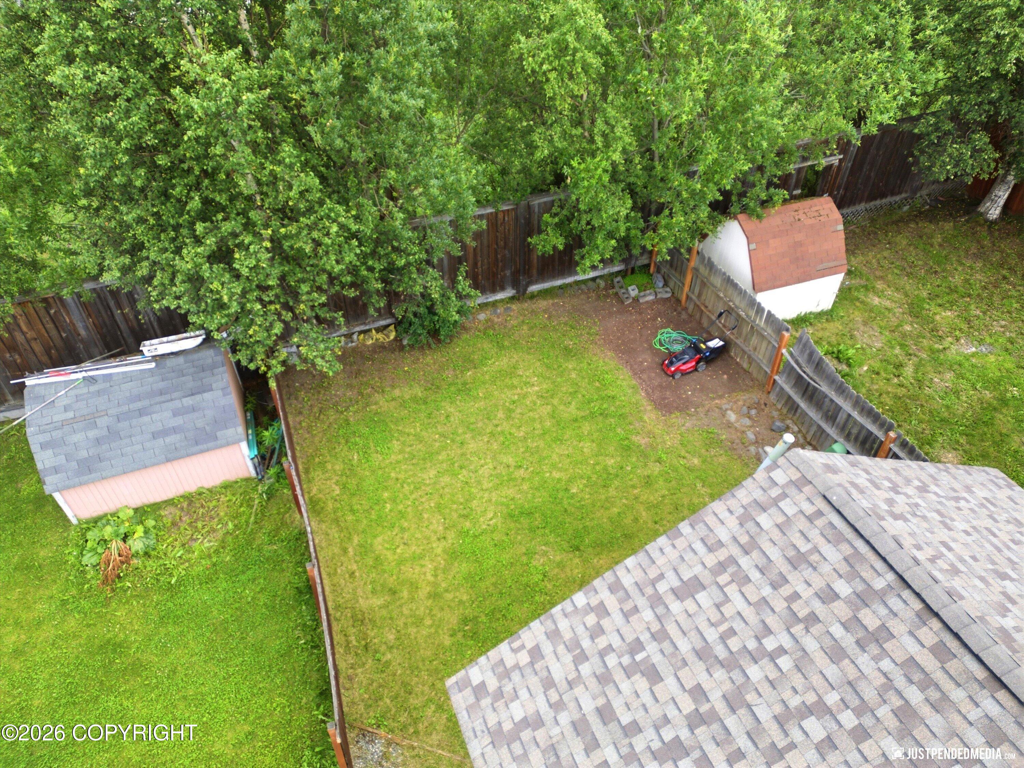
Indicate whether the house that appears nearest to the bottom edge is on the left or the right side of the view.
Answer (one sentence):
The house that appears nearest to the bottom edge sits on the right side.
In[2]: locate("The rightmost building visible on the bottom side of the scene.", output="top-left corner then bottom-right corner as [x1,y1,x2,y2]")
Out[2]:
[444,447,1024,768]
